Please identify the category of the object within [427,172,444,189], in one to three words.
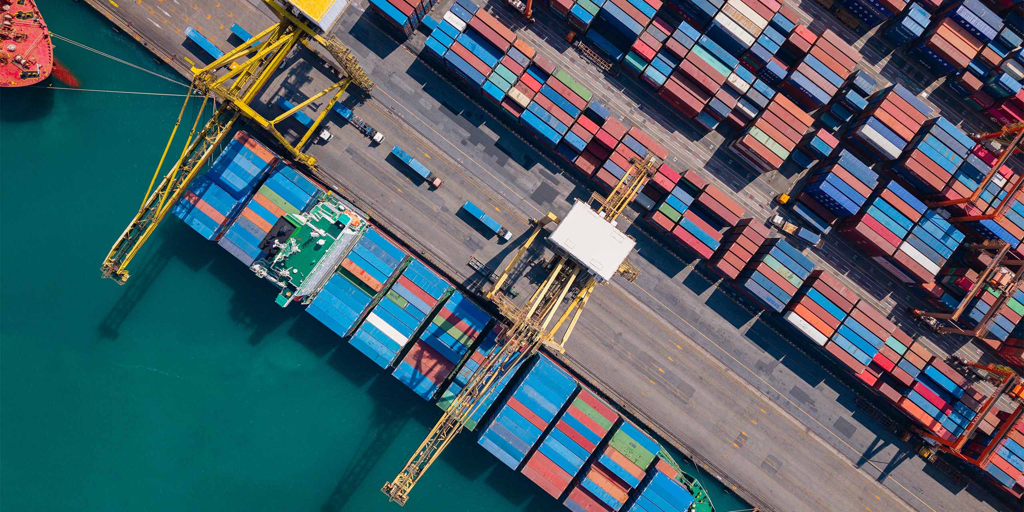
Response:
vehicle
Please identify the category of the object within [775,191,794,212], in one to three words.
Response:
vehicle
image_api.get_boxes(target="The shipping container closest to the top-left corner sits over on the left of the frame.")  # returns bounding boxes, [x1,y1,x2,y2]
[185,26,227,60]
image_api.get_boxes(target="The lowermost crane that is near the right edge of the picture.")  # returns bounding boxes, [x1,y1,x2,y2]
[897,351,1024,468]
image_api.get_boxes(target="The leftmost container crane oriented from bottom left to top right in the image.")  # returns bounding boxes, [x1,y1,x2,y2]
[94,0,380,282]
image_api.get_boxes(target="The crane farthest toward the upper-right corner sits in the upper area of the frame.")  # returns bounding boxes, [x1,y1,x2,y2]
[927,119,1024,223]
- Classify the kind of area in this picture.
port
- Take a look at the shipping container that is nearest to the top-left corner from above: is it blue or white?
blue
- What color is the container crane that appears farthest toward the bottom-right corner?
red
